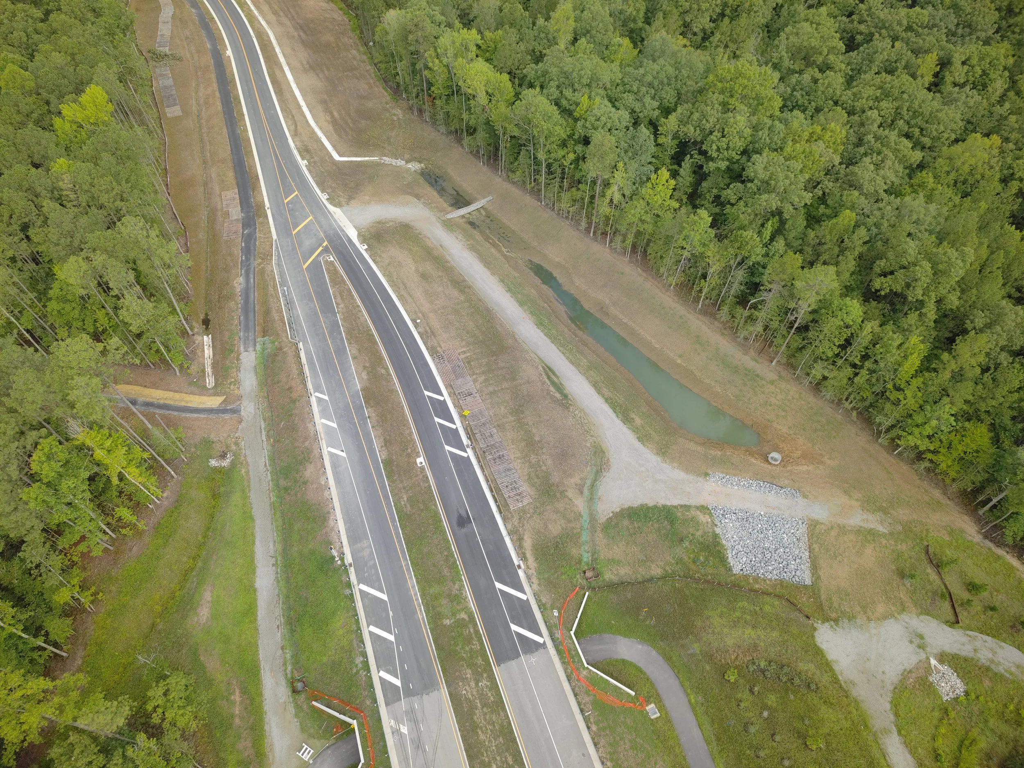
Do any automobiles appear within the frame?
No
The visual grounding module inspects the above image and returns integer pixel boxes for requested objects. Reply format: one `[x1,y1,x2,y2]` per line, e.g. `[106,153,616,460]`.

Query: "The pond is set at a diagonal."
[527,259,760,446]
